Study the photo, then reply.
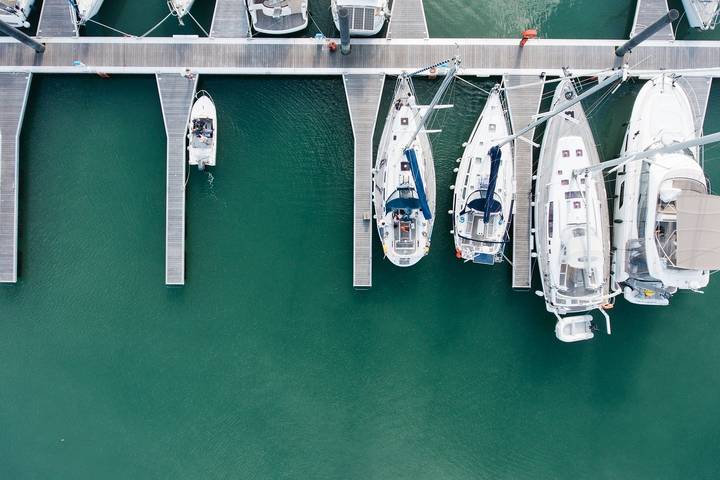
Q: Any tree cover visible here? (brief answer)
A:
No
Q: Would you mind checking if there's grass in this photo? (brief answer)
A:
No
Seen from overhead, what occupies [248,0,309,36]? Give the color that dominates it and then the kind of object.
white boat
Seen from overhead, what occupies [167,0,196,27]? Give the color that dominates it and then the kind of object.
white boat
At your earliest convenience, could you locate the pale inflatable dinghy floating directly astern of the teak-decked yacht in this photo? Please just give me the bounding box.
[555,315,600,343]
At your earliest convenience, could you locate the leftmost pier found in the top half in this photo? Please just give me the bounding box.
[0,73,35,283]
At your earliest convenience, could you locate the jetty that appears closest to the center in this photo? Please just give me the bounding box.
[343,74,385,288]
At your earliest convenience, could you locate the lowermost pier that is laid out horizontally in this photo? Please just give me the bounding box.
[0,36,720,79]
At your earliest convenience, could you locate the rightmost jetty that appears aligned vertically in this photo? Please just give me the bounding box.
[671,75,713,172]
